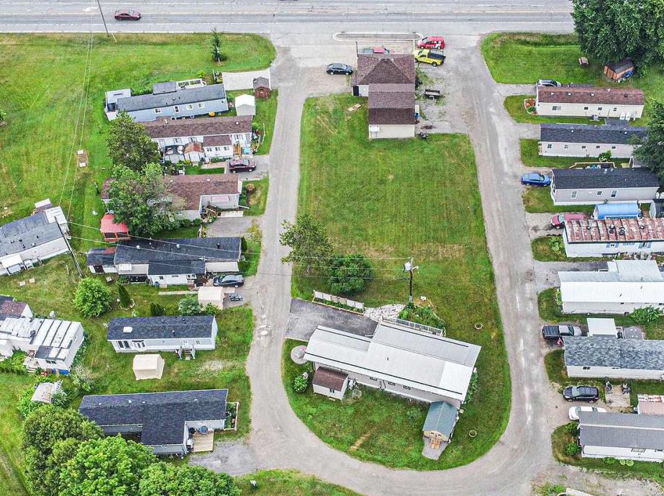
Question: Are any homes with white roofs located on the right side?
Yes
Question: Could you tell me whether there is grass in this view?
Yes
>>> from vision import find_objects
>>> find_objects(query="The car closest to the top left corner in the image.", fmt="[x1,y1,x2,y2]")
[113,9,140,21]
